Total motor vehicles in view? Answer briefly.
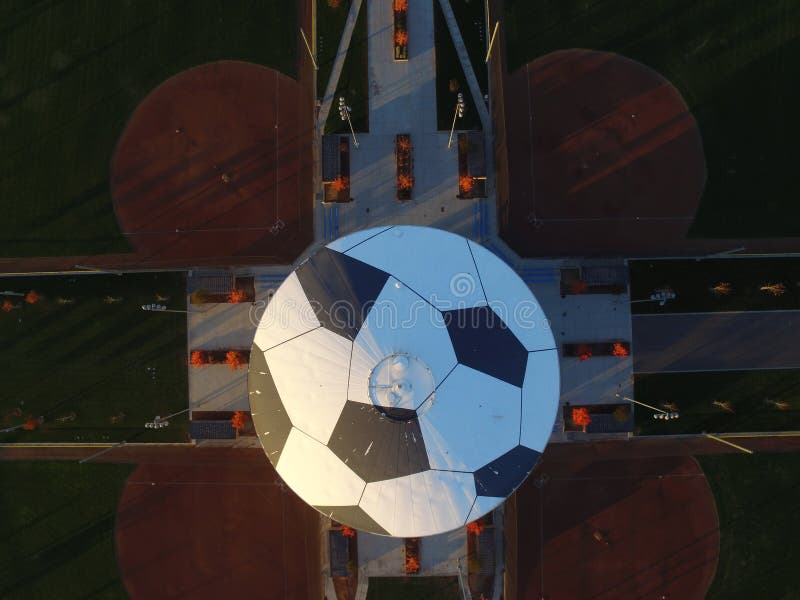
0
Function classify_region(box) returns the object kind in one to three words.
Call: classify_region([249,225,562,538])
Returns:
water tower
